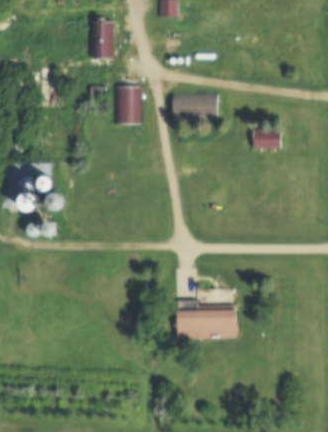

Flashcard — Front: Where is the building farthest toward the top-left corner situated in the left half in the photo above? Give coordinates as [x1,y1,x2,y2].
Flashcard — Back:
[92,15,114,58]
